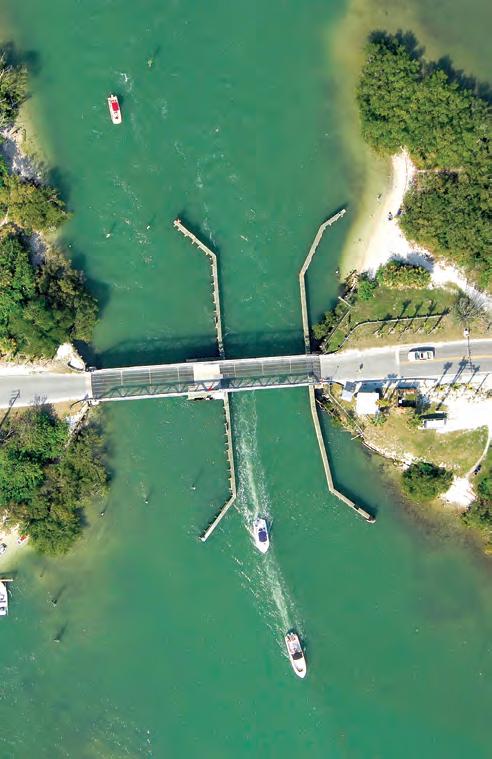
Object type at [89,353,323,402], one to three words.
bridge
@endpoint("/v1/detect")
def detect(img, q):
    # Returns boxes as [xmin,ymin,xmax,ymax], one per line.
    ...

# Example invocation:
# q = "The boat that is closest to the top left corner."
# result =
[108,95,122,125]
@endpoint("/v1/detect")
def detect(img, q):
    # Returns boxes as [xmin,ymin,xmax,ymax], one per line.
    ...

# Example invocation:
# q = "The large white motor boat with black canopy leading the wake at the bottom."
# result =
[285,632,305,678]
